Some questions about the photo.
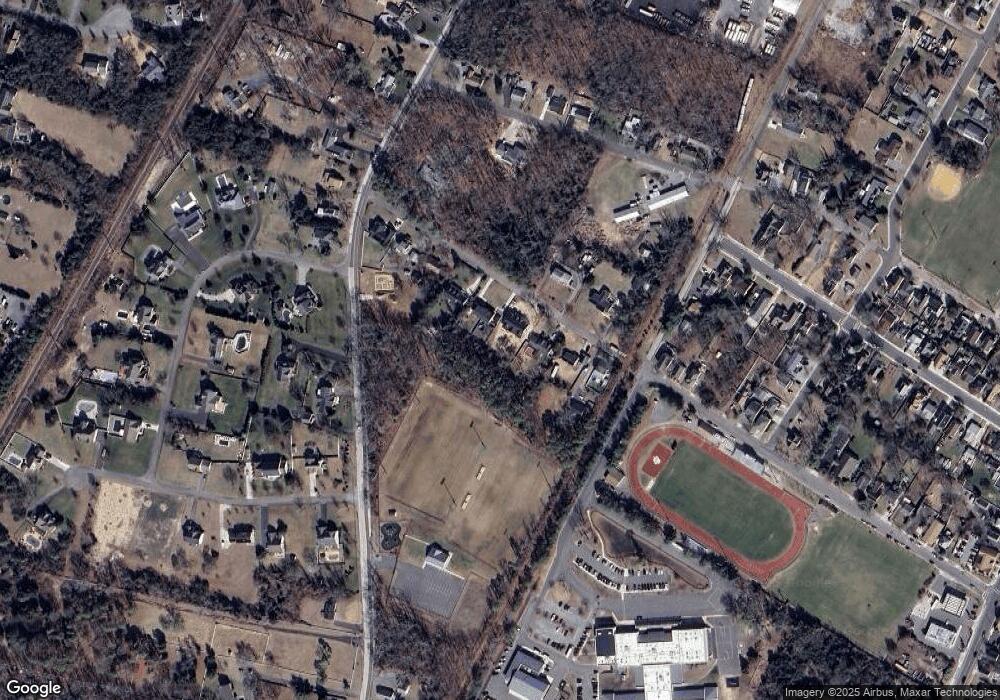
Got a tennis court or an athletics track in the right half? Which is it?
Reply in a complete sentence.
It is an athletics track that can be seen in the right half.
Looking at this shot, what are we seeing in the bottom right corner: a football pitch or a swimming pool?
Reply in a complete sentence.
What appears in the bottom right corner is a football pitch.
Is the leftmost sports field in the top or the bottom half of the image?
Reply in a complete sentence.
The leftmost sports field is in the bottom half of the image.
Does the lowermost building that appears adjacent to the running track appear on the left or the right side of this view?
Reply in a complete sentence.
The lowermost building that appears adjacent to the running track appears in the right half of the scene.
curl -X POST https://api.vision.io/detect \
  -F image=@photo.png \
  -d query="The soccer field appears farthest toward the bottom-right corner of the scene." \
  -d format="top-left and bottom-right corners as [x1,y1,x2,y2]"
[769,512,937,656]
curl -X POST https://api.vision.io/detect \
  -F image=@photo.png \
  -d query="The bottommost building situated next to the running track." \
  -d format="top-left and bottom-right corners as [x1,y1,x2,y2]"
[596,622,719,700]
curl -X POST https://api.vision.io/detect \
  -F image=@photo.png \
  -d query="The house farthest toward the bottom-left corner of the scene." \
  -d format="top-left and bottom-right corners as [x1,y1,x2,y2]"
[31,511,57,538]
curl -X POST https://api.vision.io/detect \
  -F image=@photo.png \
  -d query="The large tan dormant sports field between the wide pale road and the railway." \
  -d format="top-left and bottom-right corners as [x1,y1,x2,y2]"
[379,379,559,571]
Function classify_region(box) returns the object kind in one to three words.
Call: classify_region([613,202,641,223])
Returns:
barn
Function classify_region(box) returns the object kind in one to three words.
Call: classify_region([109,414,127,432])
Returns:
swimming pool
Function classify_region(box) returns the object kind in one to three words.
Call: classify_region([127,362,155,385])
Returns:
house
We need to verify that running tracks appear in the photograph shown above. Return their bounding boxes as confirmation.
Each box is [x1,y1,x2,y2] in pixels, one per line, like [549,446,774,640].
[622,424,809,583]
